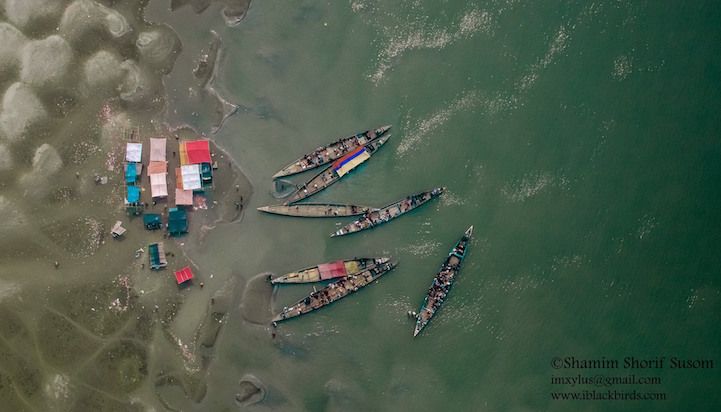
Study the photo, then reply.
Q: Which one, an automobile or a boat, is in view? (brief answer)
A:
boat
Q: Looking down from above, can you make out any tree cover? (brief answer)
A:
No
